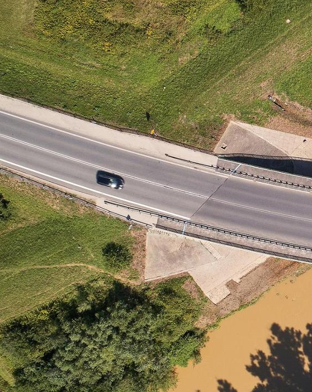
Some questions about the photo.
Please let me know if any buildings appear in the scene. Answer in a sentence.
No, the picture doesn't show any building.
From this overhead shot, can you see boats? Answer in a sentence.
No, the picture doesn't show any boat.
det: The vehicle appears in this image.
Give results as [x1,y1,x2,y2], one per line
[96,172,125,187]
